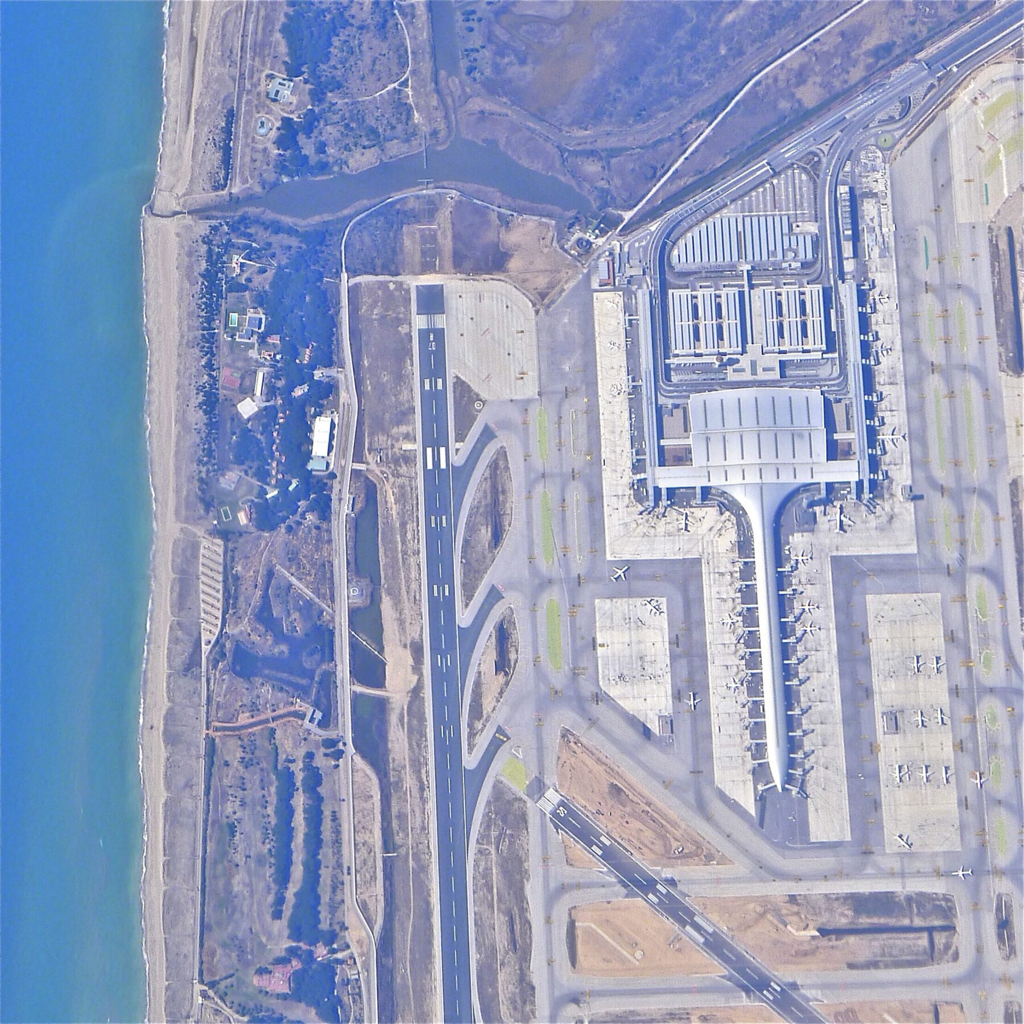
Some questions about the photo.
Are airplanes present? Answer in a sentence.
Yes, this view includes an airplane.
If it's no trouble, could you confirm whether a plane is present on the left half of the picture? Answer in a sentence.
No, the scene shows no plane on the left half of the picture.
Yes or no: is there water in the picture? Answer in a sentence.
Yes, the picture does contain water.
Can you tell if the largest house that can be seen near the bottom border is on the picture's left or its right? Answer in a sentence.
The largest house that can be seen near the bottom border is on the left side of the image.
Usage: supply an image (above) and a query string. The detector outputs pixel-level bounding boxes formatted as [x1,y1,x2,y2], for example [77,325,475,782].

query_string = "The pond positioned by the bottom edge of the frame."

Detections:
[353,696,395,1024]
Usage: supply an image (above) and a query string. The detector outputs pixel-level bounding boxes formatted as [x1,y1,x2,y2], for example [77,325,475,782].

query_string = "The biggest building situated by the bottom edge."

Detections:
[254,960,299,993]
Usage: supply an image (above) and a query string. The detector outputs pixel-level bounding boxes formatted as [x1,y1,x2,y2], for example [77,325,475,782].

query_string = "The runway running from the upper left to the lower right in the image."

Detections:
[527,778,835,1024]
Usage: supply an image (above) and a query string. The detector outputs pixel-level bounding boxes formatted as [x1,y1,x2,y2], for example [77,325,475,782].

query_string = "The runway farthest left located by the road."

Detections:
[411,282,477,1024]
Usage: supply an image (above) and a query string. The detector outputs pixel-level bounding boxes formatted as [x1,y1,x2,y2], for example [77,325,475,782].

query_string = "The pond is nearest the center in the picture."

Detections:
[349,477,387,685]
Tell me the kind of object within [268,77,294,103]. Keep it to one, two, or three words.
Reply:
house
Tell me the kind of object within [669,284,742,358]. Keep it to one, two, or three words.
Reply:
building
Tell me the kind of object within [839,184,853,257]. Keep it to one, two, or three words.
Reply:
building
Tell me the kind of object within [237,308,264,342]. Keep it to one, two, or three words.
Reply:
house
